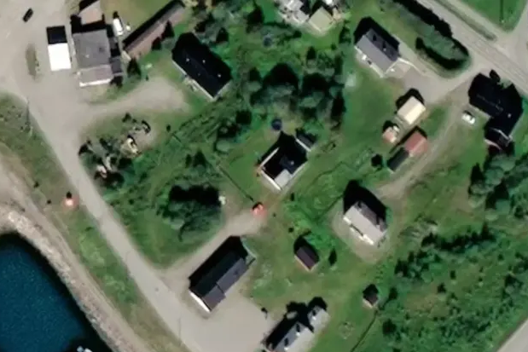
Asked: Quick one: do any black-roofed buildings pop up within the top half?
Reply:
Yes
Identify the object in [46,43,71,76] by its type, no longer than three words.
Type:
building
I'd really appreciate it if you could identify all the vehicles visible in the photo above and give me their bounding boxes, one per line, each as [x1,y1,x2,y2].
[463,113,474,123]
[22,9,32,21]
[112,19,121,36]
